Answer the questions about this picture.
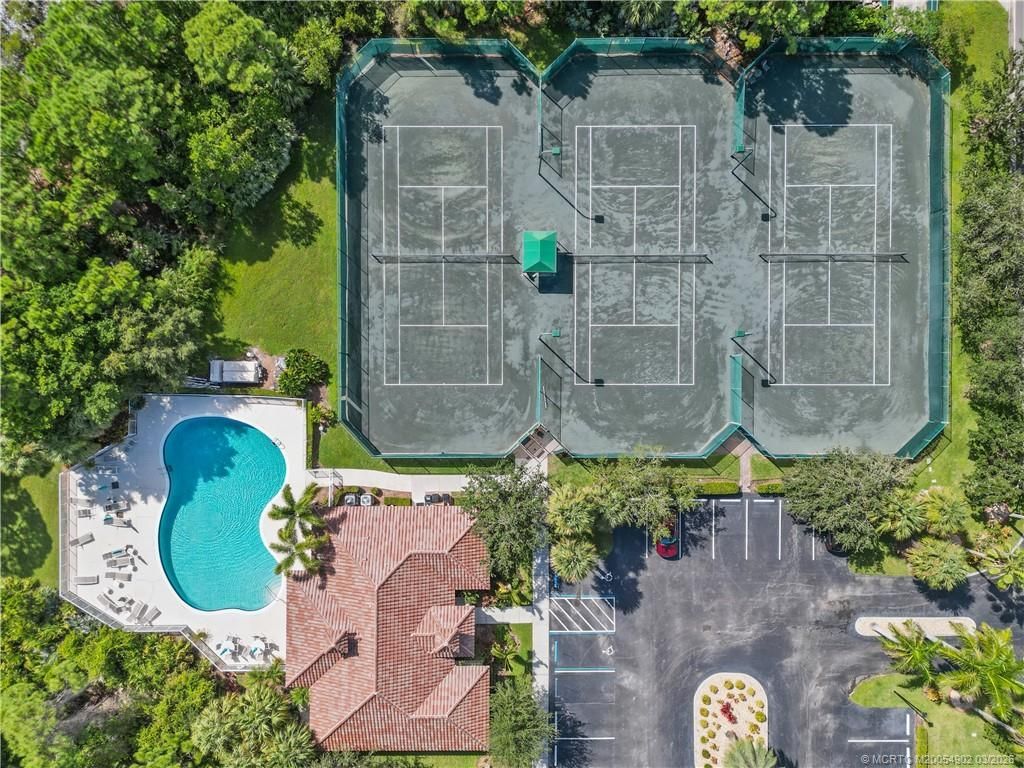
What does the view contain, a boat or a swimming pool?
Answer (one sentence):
This aerial view contains a swimming pool.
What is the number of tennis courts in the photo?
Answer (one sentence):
I count 3 tennis courts.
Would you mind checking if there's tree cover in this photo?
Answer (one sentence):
Yes, the picture does contain tree cover.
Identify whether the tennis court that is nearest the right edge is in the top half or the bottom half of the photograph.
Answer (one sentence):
The tennis court that is nearest the right edge is in the top half of the image.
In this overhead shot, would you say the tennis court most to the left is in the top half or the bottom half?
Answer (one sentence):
The top half of the photo is where the tennis court most to the left is.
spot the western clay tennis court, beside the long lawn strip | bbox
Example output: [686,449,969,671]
[345,55,540,453]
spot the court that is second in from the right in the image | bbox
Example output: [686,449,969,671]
[539,55,732,454]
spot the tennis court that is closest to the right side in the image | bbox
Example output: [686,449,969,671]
[731,55,928,454]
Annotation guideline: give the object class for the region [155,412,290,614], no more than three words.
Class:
swimming pool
